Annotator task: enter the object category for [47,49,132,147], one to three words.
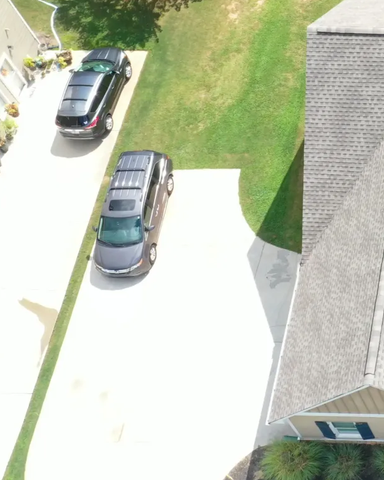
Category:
car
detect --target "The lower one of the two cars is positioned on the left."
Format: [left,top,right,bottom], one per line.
[83,150,173,289]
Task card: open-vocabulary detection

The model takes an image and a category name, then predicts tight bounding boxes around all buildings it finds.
[264,0,384,445]
[0,0,38,126]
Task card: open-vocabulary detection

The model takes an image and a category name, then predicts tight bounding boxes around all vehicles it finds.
[47,49,132,147]
[83,150,173,289]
